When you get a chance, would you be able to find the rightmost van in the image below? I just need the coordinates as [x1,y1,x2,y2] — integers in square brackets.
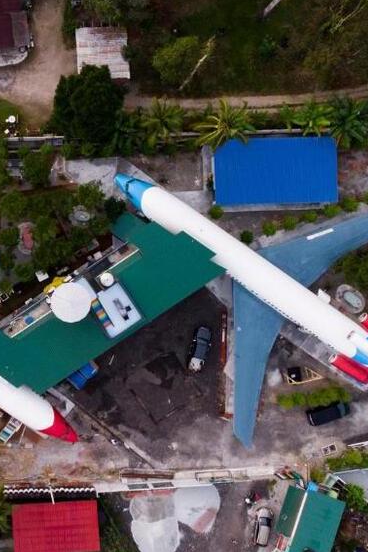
[303,400,349,428]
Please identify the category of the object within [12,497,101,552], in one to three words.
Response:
house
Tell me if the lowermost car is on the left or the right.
right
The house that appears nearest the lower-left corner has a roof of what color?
red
